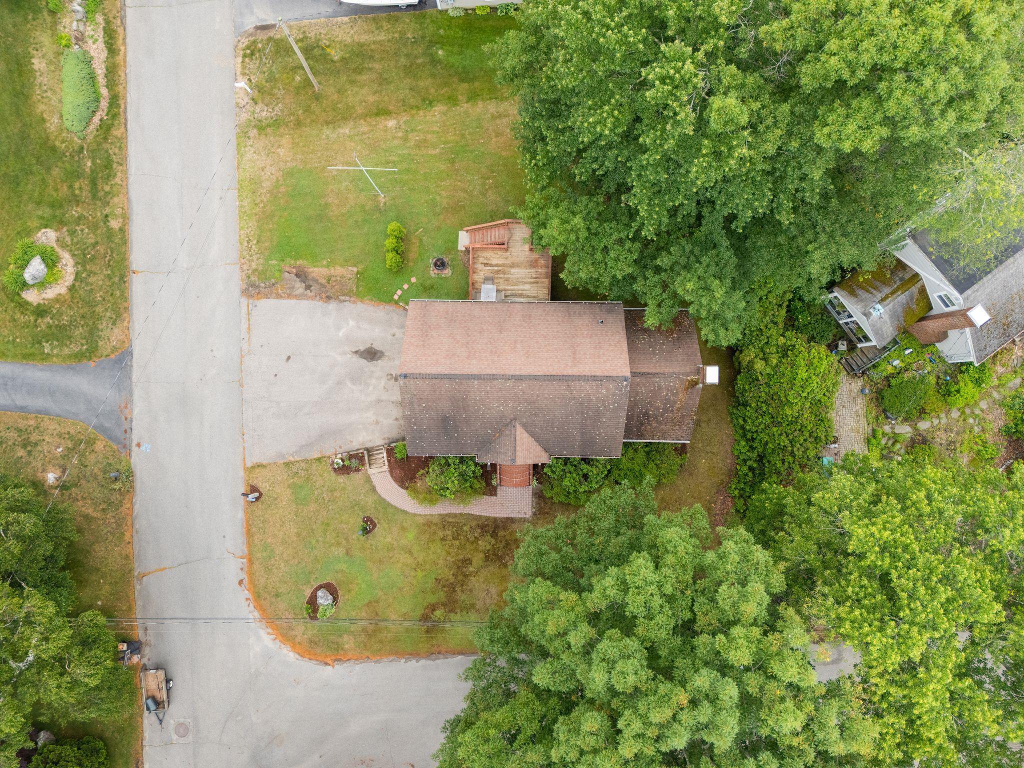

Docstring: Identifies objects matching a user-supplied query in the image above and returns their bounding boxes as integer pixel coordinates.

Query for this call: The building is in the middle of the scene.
[400,298,717,467]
